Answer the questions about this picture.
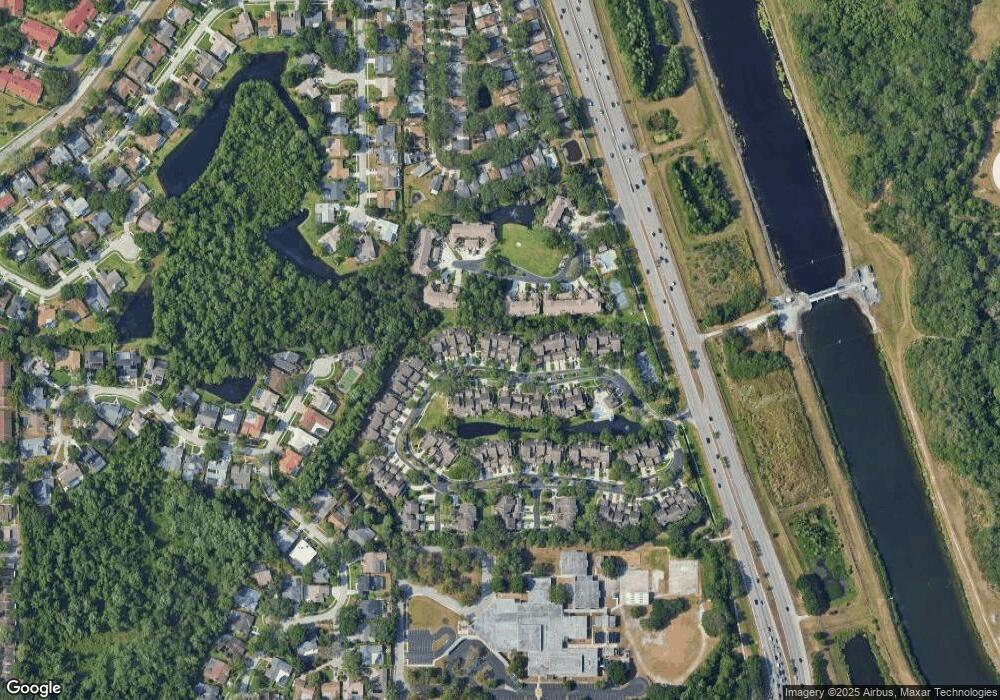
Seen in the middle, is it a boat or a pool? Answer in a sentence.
There is a pool in the middle.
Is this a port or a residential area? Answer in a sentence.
It's a residential area.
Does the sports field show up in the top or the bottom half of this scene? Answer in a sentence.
The sports field sits in the bottom half of the picture.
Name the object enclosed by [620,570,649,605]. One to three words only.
building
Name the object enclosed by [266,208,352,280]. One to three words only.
pond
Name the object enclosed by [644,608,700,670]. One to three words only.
sports field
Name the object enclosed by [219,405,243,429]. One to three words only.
house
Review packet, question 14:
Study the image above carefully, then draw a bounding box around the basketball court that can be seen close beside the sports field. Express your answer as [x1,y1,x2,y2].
[669,559,698,595]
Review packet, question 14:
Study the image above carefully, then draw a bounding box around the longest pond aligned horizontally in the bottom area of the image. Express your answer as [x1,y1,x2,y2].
[456,417,642,439]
